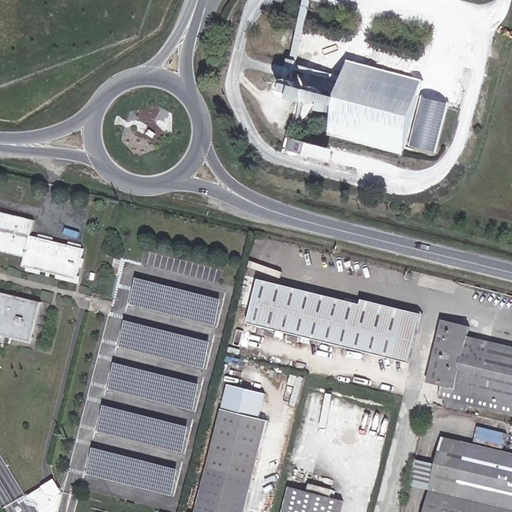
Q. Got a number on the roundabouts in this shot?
one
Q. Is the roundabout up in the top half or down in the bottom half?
top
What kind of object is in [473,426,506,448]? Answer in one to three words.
shed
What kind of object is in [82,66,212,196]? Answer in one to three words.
roundabout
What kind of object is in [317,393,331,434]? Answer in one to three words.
vehicle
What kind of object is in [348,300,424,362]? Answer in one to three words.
building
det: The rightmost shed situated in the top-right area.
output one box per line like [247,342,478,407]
[406,94,448,155]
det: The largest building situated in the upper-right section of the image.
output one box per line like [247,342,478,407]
[327,60,422,154]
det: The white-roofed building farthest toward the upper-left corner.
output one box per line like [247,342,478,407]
[0,211,38,256]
